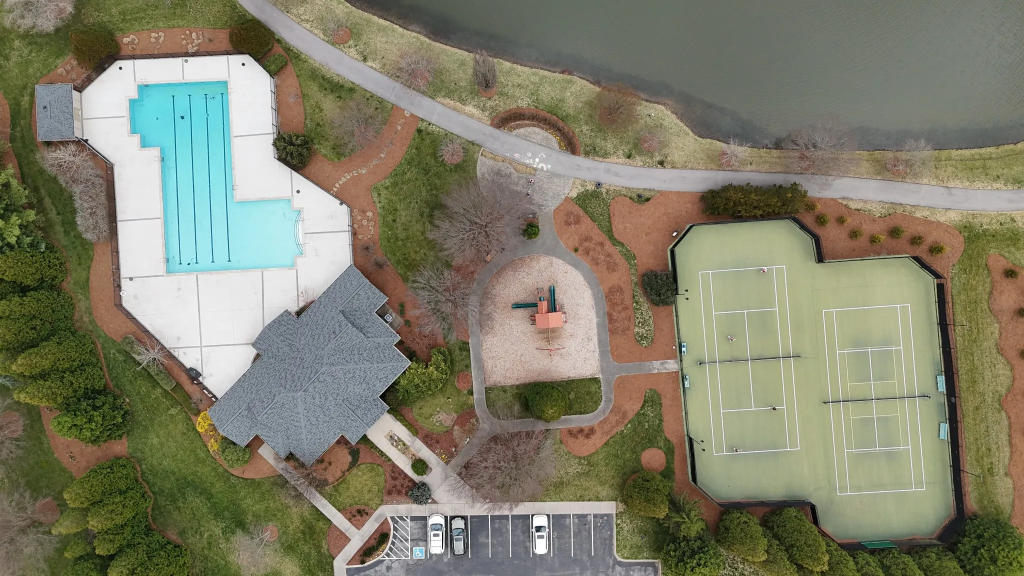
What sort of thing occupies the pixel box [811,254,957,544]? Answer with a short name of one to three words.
tennis court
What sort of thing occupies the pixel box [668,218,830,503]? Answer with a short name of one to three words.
tennis court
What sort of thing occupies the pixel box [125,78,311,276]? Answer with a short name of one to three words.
swimming pool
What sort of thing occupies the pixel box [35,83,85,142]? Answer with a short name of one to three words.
building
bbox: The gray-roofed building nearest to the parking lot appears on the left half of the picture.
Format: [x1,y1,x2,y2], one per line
[207,264,412,467]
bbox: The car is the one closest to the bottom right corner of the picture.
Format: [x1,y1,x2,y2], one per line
[531,514,550,555]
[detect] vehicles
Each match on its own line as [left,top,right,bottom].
[531,514,550,555]
[449,517,467,557]
[427,513,446,555]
